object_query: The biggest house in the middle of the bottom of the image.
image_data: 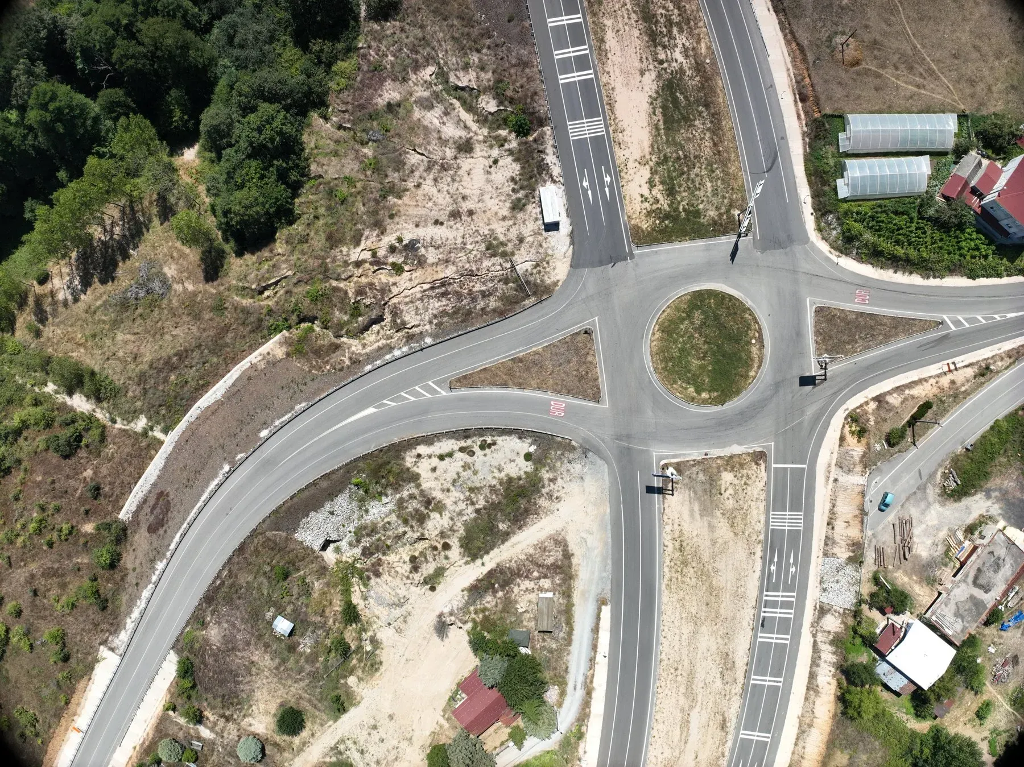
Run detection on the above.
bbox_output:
[453,666,508,735]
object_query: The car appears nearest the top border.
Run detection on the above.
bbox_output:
[878,490,897,513]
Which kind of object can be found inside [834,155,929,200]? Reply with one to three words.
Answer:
greenhouse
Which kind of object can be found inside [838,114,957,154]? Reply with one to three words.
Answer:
greenhouse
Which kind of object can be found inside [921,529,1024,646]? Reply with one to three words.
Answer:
building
